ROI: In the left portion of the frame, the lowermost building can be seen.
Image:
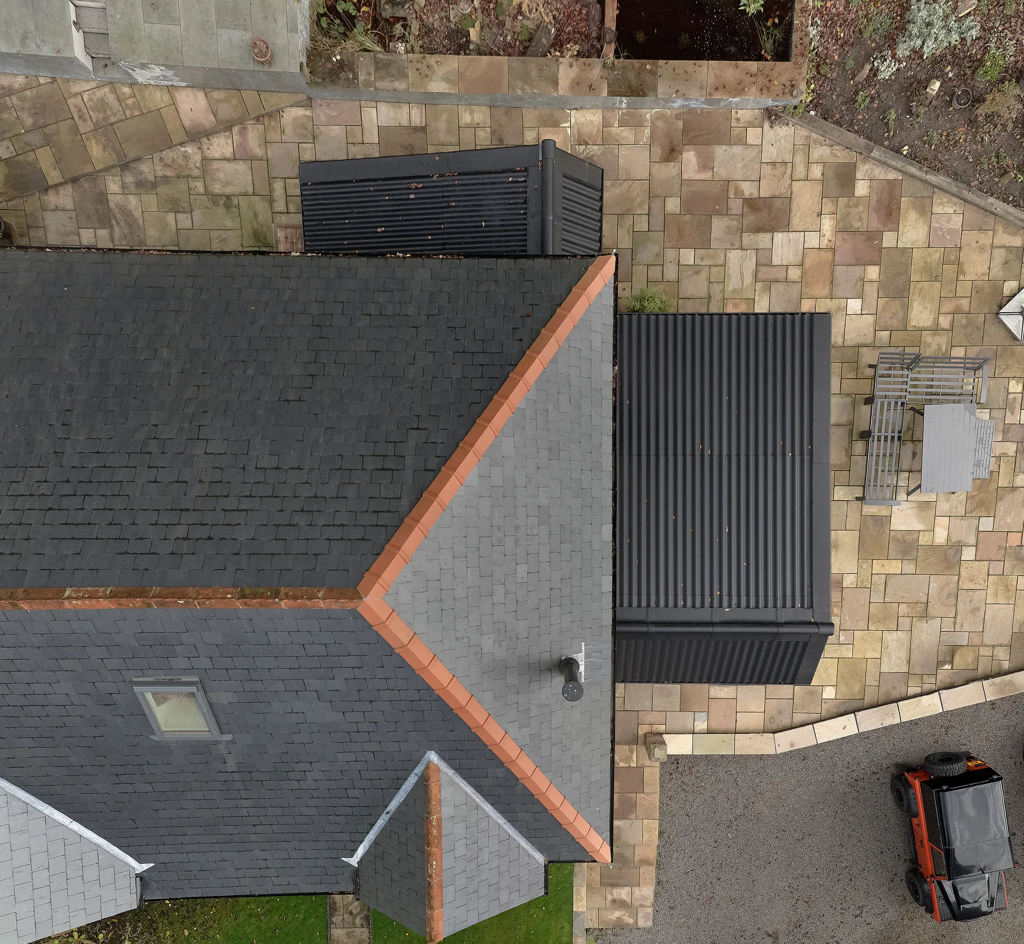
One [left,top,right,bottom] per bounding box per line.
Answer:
[0,242,622,944]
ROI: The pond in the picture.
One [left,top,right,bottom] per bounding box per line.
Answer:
[615,0,791,62]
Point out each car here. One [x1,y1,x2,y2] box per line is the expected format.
[888,740,1024,924]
